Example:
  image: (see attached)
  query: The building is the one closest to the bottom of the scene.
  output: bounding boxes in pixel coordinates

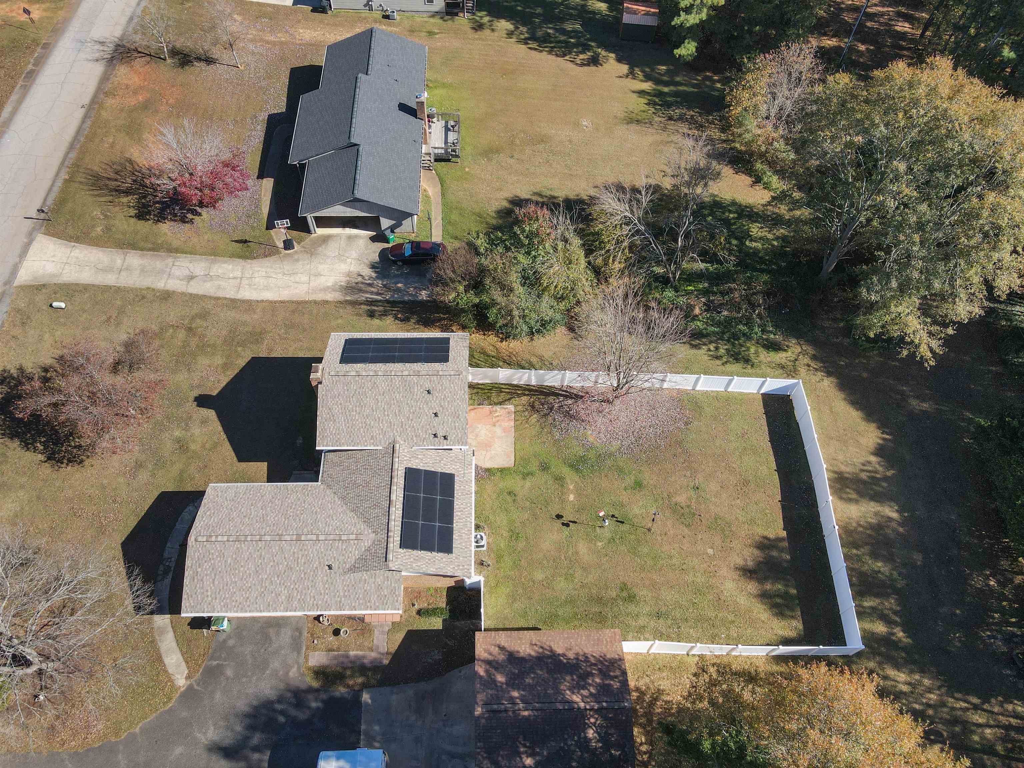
[475,629,634,768]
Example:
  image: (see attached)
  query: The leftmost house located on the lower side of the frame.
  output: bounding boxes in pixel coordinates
[181,331,477,622]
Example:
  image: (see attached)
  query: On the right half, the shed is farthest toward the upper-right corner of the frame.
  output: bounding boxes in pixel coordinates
[619,2,658,45]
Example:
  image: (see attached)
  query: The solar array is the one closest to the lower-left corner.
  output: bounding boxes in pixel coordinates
[401,467,455,553]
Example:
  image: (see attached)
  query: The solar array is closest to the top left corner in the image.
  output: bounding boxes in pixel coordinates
[339,336,451,362]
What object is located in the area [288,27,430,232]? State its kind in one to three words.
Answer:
house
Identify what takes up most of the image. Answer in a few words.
grass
